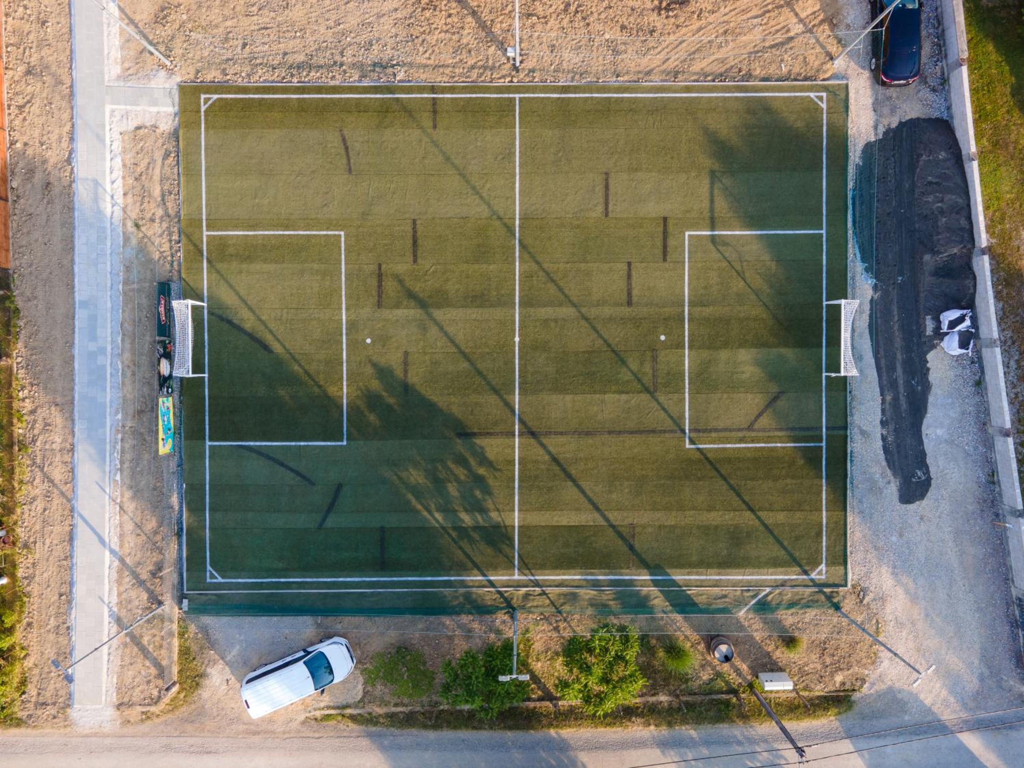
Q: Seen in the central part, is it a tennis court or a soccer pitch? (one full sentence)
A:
Visible in the central part is a soccer pitch.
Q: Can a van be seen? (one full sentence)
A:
Yes, there is a van in the image.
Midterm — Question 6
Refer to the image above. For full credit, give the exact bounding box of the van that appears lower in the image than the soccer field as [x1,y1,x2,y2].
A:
[242,637,357,718]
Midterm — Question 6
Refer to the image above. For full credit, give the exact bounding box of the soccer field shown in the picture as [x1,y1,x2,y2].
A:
[178,81,864,615]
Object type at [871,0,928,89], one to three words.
car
